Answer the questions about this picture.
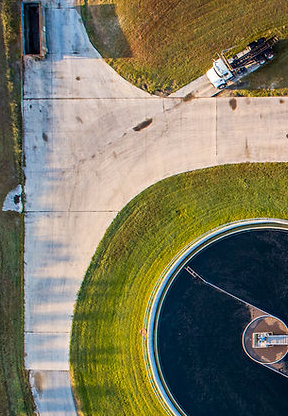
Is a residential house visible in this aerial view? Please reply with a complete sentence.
No, there's no residential house here.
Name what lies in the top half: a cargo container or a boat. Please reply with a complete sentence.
What appears in the top half is a cargo container.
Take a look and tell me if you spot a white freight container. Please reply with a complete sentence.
No, I find no white freight container anywhere in the image.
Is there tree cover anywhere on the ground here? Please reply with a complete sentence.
No, there's no tree cover in this view.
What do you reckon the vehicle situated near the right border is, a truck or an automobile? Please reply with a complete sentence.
I'd say the vehicle situated near the right border is a truck.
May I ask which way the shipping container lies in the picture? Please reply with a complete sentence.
The shipping container runs from top to bottom in the image.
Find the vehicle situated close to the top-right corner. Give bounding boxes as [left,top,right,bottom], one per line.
[204,33,278,91]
